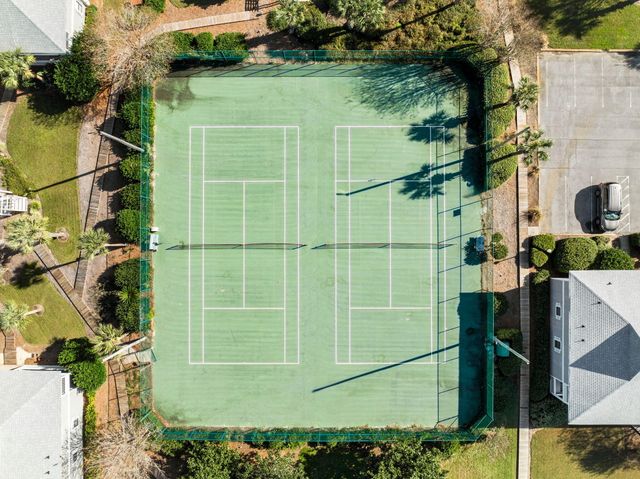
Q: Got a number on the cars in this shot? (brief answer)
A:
1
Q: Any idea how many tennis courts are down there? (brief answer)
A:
2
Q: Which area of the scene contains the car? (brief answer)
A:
right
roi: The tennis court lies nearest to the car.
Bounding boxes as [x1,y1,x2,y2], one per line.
[317,63,481,427]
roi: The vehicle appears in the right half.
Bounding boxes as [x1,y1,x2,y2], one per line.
[594,182,622,232]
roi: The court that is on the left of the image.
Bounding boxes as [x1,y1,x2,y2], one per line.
[154,63,317,427]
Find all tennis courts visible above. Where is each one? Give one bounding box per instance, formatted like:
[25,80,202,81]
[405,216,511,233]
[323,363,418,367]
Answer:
[154,63,317,427]
[317,63,481,427]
